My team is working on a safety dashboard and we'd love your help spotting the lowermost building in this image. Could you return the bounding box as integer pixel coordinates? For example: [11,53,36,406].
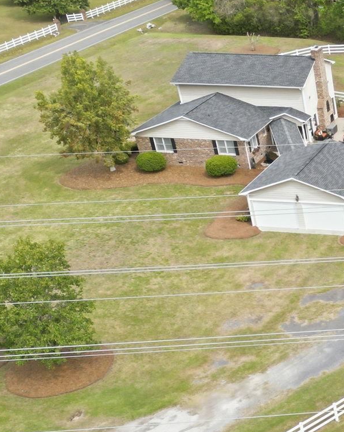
[239,138,344,231]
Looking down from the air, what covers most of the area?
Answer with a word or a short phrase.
grass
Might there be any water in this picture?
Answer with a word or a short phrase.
No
